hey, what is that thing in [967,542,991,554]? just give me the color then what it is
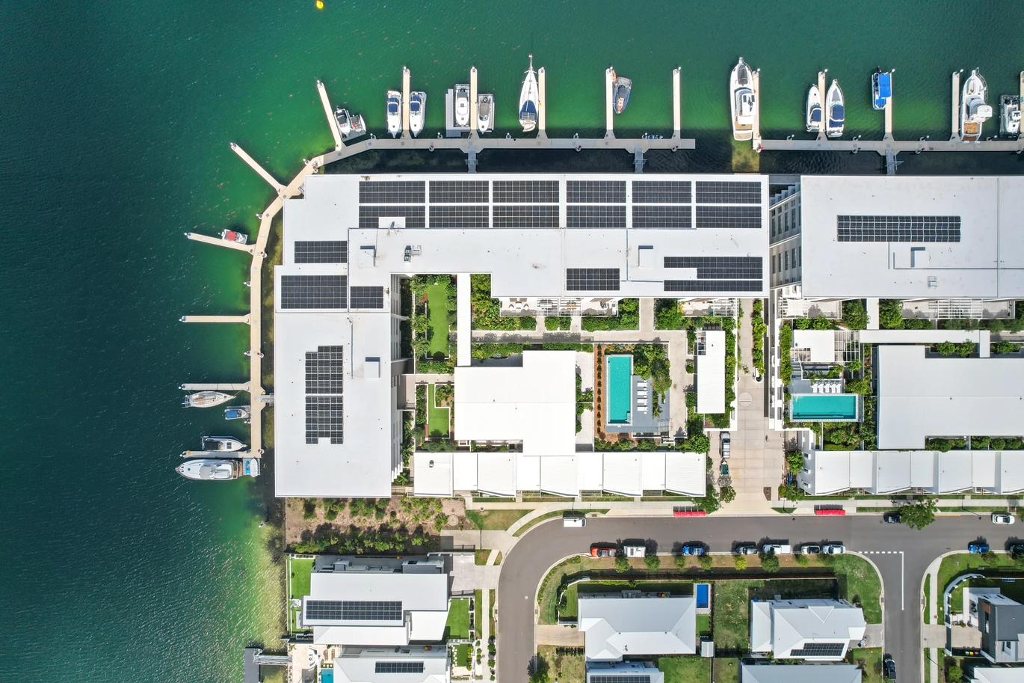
blue vehicle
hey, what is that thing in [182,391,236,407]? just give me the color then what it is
white boat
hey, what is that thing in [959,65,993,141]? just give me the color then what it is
white boat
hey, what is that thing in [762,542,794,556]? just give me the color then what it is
white car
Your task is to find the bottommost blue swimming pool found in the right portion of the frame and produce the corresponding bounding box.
[696,583,710,613]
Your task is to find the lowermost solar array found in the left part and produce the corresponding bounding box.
[375,661,424,674]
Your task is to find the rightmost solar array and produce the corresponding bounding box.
[838,216,961,242]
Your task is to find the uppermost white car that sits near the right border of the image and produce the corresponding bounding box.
[990,513,1015,525]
